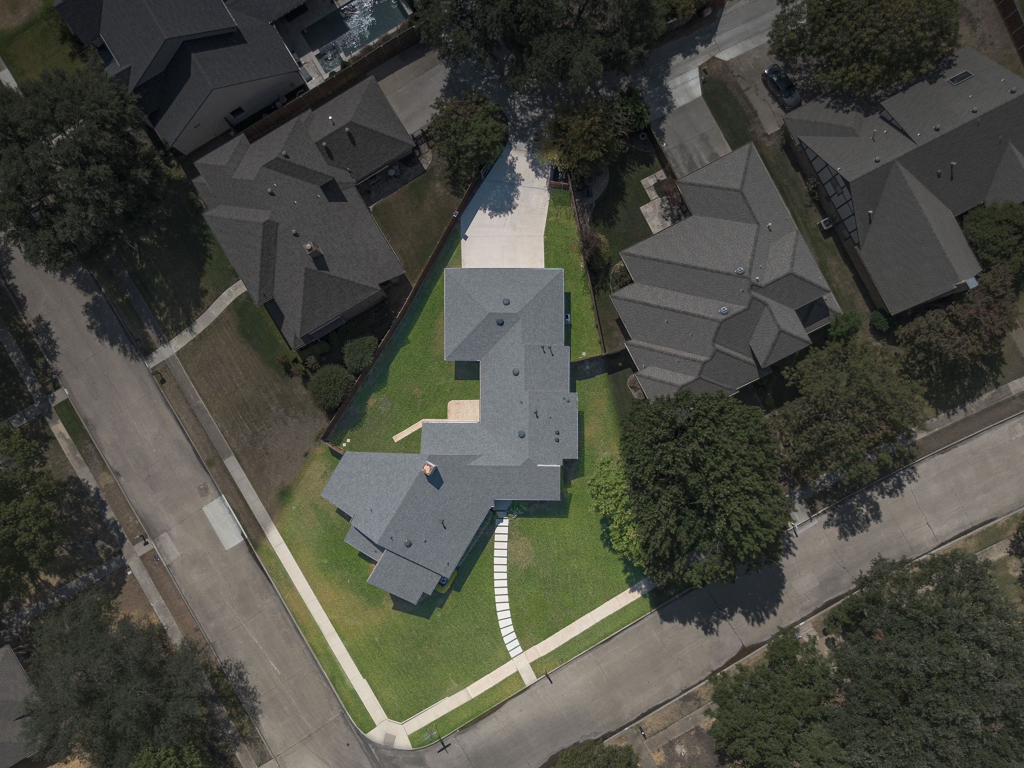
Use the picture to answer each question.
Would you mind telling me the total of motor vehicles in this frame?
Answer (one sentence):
My tally gives 1 motor vehicle in this photo.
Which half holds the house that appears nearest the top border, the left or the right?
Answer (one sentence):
It is on the left.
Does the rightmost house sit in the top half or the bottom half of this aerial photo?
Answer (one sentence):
The top half of the photo is where the rightmost house is.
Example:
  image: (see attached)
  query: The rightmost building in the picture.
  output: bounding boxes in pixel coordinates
[775,46,1024,316]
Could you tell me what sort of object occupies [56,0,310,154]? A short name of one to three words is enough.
house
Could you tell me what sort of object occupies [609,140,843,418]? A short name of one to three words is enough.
house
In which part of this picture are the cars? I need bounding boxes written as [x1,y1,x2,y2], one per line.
[764,61,803,112]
